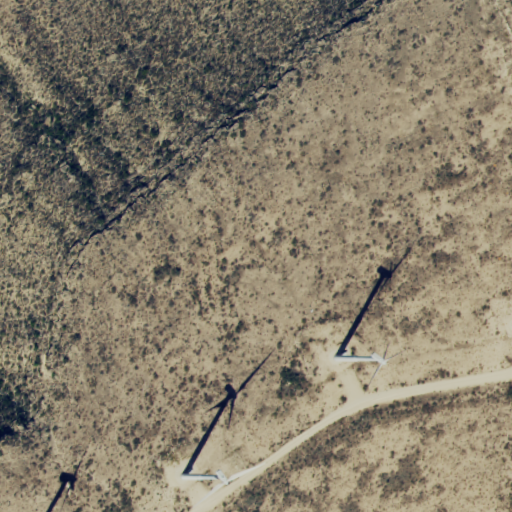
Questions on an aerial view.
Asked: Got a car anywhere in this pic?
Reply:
No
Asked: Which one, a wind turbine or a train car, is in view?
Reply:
wind turbine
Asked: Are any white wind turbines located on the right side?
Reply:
Yes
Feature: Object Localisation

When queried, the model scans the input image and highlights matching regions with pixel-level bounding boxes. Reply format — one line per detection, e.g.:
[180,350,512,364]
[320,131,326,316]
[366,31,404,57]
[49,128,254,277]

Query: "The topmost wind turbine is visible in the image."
[333,348,403,398]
